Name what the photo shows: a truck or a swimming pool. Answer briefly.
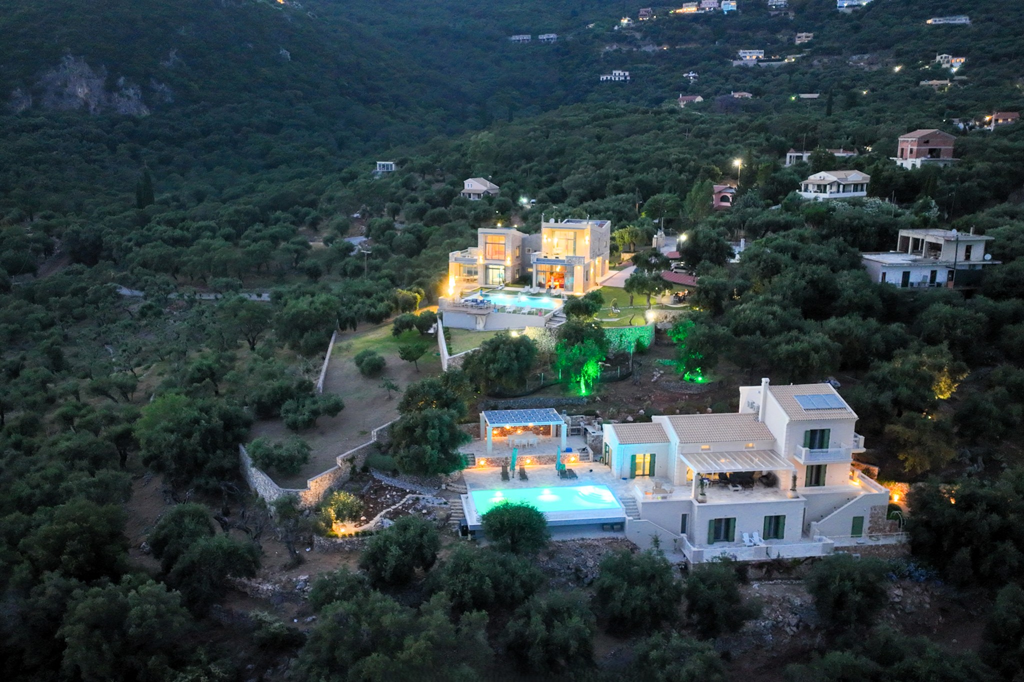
swimming pool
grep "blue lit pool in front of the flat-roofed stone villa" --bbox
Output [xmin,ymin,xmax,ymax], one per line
[447,292,570,310]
